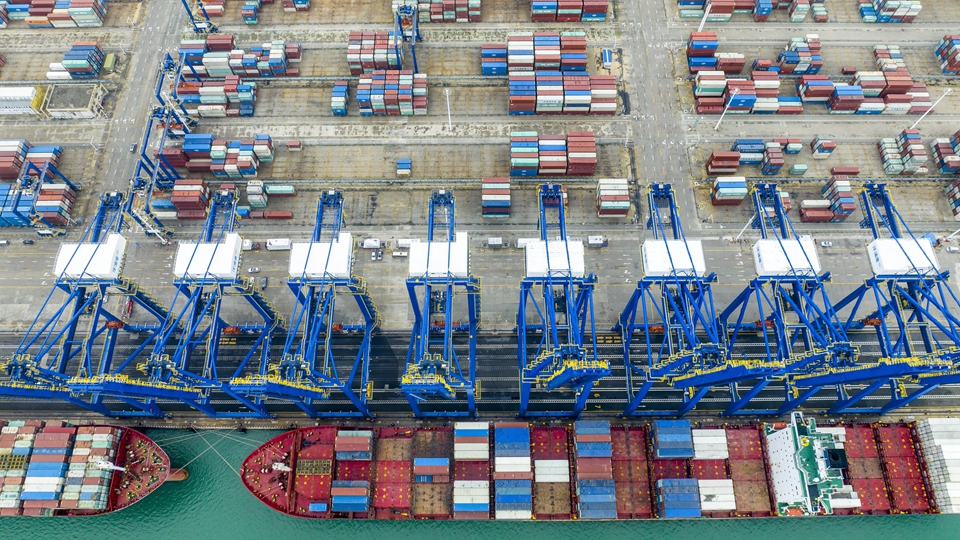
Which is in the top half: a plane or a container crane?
container crane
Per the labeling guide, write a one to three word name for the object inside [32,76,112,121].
building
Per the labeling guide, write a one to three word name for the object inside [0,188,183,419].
container crane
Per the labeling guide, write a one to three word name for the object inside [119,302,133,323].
vehicle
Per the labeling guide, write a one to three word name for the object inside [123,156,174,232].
container crane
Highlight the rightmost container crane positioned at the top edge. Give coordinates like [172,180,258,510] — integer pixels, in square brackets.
[393,3,423,72]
